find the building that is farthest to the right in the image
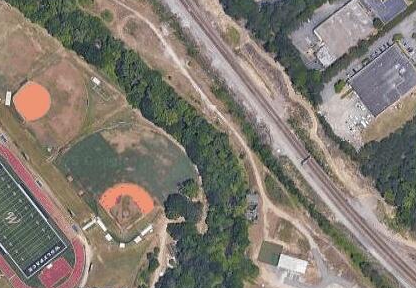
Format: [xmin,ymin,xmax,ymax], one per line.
[352,45,416,116]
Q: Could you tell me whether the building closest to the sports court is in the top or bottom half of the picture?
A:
bottom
